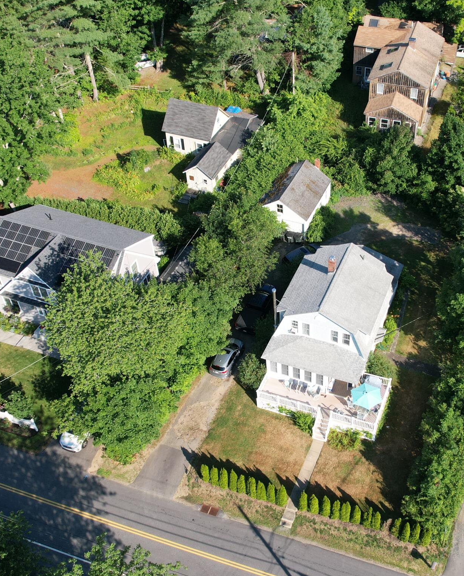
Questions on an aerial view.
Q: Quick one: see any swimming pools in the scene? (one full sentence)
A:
No, there is no swimming pool in the image.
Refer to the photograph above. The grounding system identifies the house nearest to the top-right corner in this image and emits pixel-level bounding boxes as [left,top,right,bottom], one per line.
[353,19,461,136]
